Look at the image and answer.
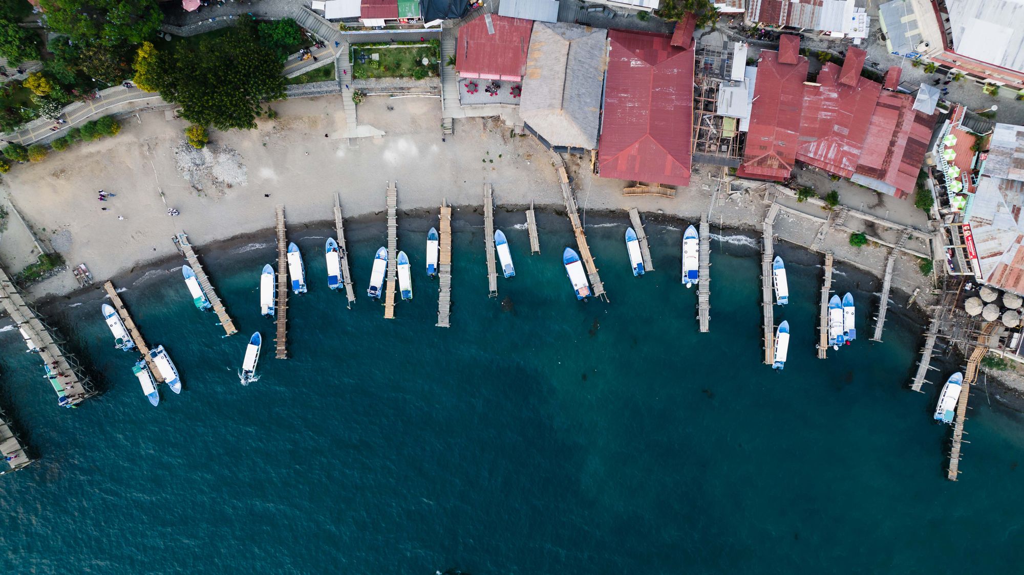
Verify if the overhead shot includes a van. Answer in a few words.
No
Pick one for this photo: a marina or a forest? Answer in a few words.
marina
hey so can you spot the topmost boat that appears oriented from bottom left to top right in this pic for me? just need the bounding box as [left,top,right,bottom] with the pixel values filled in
[906,289,921,308]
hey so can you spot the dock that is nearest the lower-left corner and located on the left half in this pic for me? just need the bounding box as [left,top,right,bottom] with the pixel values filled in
[0,384,47,472]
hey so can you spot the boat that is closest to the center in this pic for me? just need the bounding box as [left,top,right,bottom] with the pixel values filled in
[496,230,516,280]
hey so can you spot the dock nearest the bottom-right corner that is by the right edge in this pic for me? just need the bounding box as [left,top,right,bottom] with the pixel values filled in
[943,365,981,481]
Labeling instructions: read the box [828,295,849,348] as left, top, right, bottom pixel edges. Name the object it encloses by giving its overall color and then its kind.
white boat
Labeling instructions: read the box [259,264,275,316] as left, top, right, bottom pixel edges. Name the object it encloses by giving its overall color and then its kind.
white boat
